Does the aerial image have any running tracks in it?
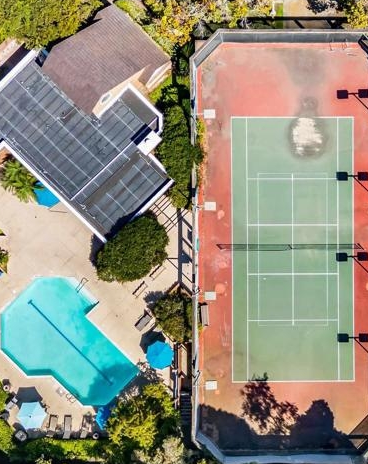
No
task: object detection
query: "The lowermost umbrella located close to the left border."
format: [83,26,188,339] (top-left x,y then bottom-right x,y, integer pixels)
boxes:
[18,400,49,428]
